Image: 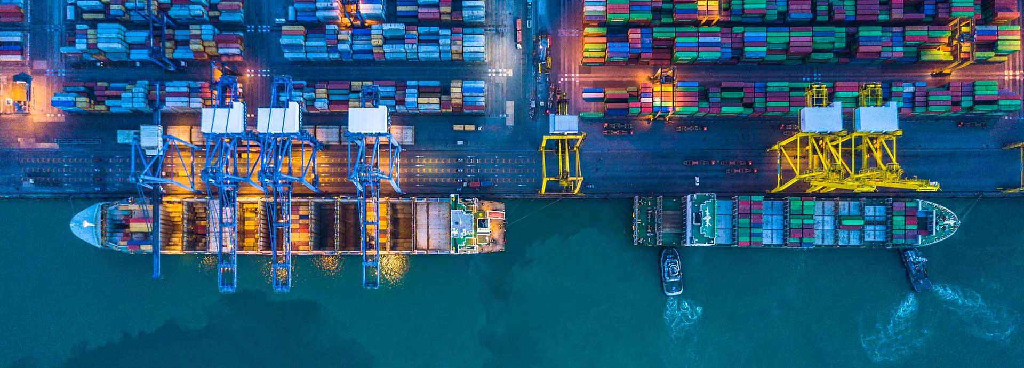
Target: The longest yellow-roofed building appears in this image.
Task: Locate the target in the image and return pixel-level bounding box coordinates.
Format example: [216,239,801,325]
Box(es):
[7,79,27,112]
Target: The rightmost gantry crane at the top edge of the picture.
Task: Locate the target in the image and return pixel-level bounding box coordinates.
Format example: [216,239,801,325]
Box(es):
[931,15,978,75]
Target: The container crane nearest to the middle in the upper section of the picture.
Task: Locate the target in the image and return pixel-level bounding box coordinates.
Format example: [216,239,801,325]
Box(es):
[532,90,586,194]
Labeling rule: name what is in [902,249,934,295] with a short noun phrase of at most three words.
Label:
boat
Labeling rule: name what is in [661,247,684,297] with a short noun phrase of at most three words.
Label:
boat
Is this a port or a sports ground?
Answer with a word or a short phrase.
port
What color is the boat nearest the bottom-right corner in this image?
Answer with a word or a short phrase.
blue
